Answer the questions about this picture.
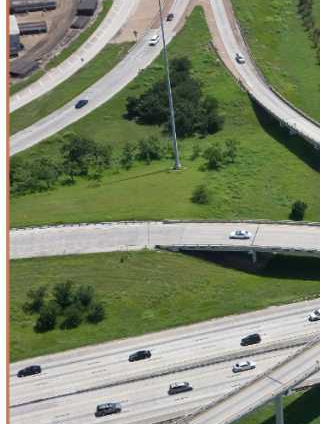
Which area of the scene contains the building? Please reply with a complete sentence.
Look in the top left portion of the view to spot the building.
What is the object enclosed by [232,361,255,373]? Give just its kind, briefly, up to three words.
vehicle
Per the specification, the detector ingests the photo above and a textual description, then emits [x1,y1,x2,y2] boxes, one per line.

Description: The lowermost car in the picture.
[95,403,120,416]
